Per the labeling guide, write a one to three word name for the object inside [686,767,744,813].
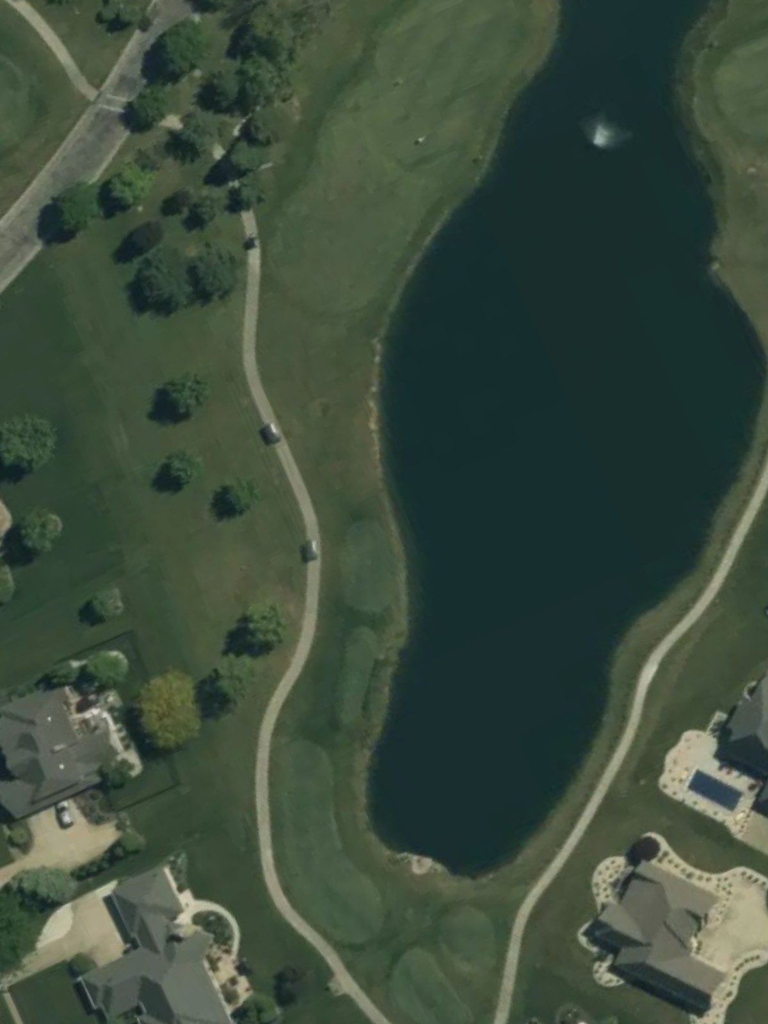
swimming pool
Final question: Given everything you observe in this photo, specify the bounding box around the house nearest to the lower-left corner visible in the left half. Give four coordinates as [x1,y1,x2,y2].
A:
[75,868,239,1024]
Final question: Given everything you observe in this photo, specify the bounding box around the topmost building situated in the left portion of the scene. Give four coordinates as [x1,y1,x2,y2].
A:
[0,685,127,817]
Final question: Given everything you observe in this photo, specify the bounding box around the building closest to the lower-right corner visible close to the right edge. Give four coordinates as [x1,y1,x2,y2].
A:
[595,858,733,1018]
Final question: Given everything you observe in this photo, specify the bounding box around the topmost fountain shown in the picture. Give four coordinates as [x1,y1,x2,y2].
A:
[588,123,623,156]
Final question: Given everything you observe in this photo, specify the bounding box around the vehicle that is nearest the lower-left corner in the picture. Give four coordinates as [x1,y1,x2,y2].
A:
[59,805,78,832]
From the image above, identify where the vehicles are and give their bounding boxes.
[246,233,259,250]
[304,540,319,558]
[265,423,281,440]
[59,805,78,832]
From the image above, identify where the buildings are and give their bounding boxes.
[75,868,239,1024]
[0,685,127,817]
[595,858,733,1018]
[723,683,768,802]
